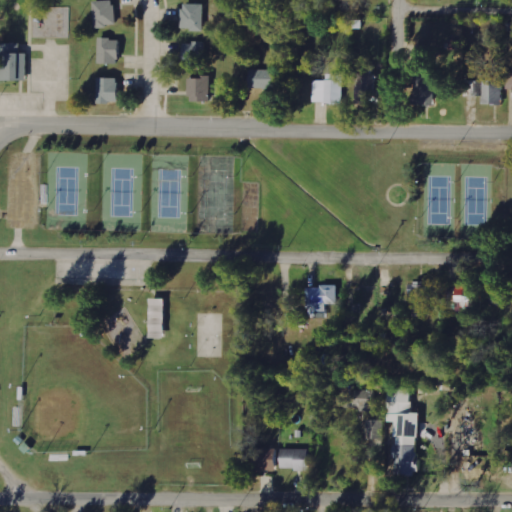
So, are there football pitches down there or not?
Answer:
Yes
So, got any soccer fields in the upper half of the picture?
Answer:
No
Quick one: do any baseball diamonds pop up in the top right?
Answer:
No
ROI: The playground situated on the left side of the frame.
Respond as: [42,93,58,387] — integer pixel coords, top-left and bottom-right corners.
[107,307,143,357]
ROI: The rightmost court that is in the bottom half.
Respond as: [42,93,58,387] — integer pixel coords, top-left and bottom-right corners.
[197,313,222,358]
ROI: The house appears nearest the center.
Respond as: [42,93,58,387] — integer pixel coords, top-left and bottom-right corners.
[305,285,338,318]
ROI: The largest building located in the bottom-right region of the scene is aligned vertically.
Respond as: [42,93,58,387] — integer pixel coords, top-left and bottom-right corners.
[386,391,420,474]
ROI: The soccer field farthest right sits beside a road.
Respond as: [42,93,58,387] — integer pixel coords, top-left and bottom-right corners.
[158,370,229,485]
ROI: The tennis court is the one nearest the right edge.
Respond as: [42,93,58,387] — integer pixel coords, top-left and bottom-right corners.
[461,164,492,238]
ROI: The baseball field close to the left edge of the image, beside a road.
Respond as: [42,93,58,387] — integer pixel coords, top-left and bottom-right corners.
[20,324,149,454]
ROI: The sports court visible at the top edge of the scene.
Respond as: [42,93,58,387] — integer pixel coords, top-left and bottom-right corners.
[32,8,69,38]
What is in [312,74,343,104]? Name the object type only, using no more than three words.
house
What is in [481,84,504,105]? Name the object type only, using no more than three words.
house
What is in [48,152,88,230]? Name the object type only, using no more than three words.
tennis court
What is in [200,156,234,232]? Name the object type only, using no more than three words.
sports court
